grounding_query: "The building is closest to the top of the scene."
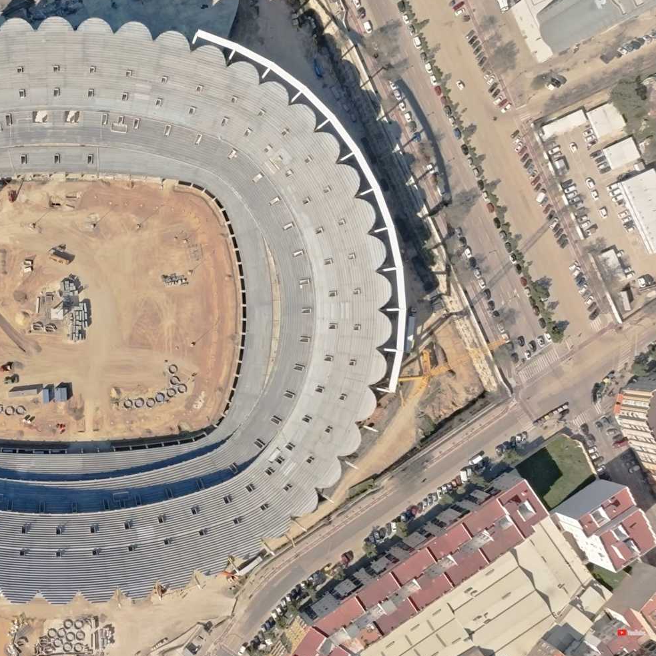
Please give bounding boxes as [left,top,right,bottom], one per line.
[526,0,656,57]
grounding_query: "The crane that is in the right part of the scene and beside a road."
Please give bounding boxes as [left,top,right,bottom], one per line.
[399,337,510,381]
